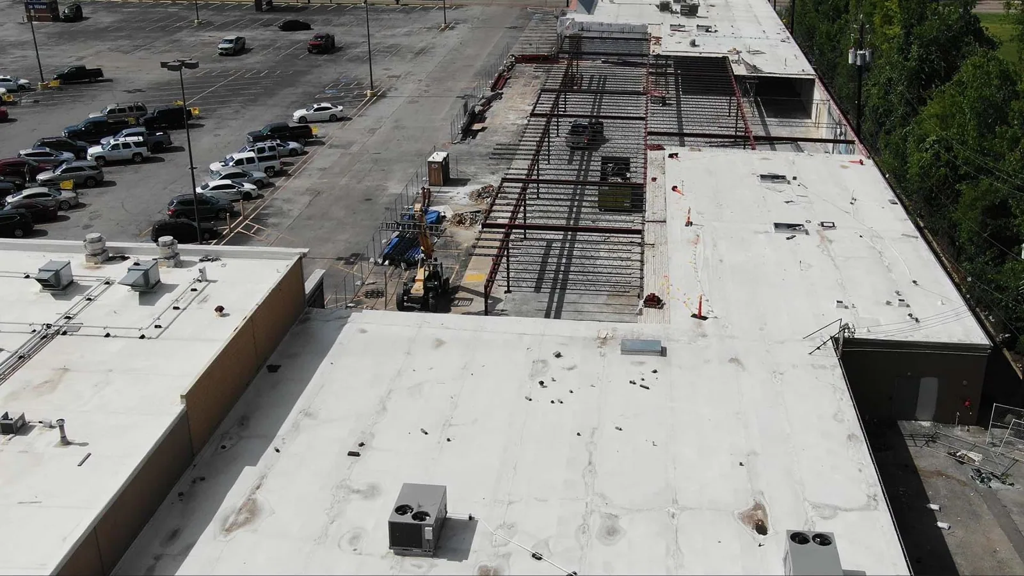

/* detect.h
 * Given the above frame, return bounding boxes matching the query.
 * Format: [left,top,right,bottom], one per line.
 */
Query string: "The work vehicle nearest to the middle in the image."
[400,199,450,306]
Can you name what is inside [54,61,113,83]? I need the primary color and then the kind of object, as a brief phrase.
black truck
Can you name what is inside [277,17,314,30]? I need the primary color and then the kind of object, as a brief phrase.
black vehicle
